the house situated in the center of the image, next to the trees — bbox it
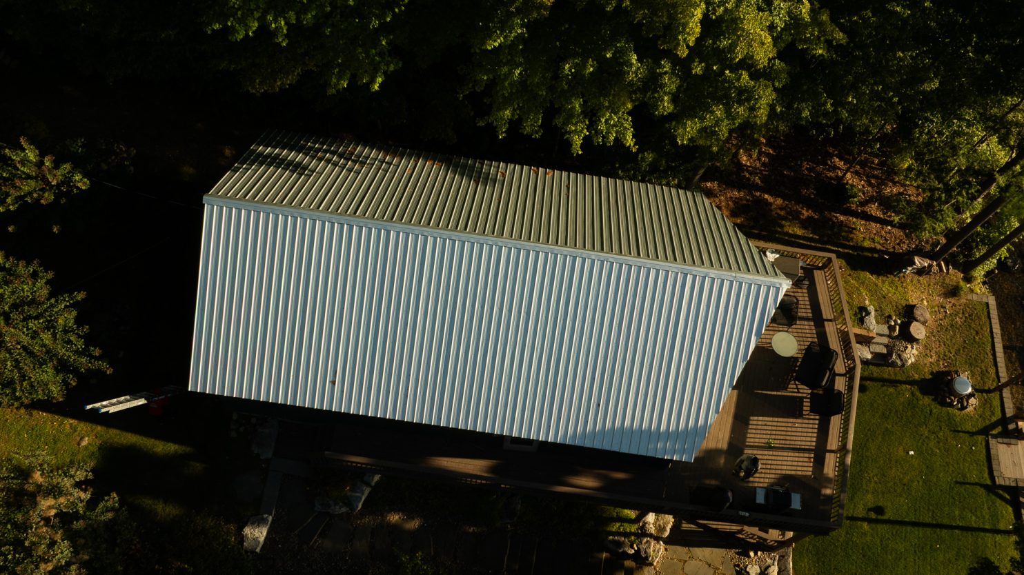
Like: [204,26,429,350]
[188,128,794,462]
